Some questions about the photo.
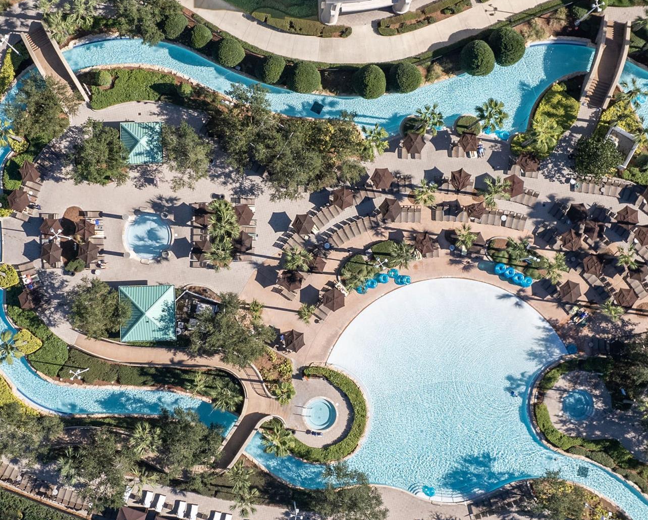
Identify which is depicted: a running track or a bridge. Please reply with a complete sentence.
There is a bridge in the scene.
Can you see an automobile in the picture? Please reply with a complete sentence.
No, no automobile is visible in the scene.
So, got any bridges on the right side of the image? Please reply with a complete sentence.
Yes, there is a bridge on the right side of the image.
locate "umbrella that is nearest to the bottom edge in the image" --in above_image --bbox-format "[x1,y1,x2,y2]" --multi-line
[283,329,307,353]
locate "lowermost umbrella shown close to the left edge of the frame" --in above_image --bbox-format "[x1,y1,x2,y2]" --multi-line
[16,288,40,312]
